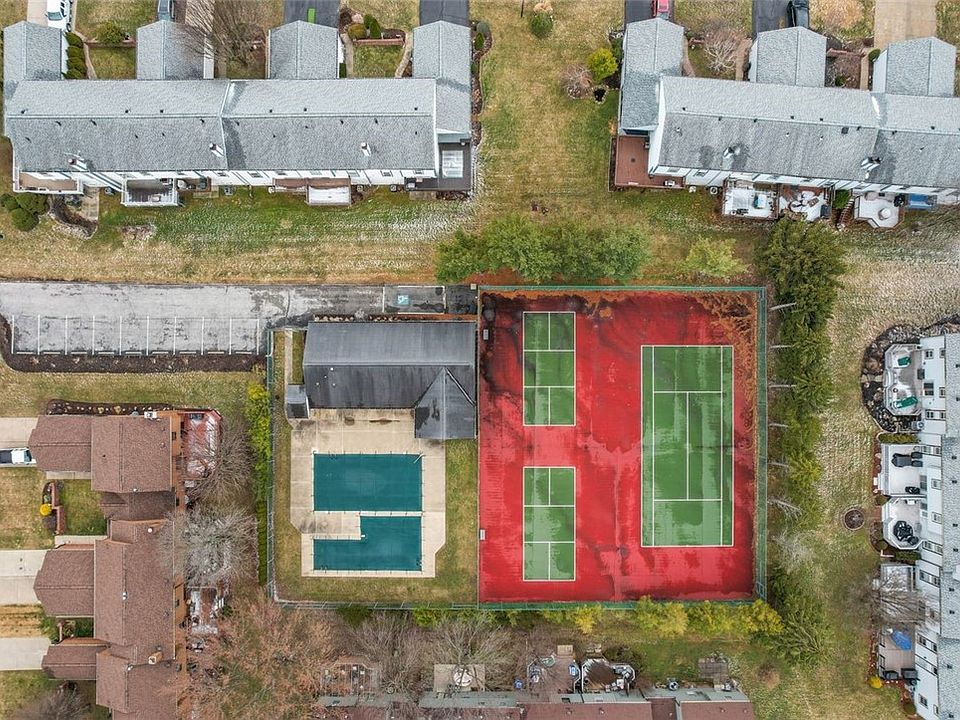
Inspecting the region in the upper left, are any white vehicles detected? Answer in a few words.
Yes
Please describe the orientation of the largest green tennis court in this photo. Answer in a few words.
from top to bottom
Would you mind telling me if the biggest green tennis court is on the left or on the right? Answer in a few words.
right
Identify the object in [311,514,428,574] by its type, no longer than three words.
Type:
swimming pool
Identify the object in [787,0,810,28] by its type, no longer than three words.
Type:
car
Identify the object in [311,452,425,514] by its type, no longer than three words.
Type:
swimming pool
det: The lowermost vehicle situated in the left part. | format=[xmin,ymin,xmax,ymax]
[0,447,36,468]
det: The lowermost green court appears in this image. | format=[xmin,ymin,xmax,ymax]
[523,467,576,580]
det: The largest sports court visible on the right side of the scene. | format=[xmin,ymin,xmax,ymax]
[479,291,758,601]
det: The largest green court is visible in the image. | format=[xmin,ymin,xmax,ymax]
[641,346,733,547]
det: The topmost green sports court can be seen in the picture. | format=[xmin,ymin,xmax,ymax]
[523,311,576,426]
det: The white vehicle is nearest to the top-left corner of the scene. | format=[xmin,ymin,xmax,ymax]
[46,0,72,35]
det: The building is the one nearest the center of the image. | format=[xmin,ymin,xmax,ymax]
[302,322,476,442]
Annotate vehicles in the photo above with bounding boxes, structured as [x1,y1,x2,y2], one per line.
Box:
[46,0,72,35]
[787,0,810,28]
[652,0,671,21]
[156,0,178,22]
[0,447,36,468]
